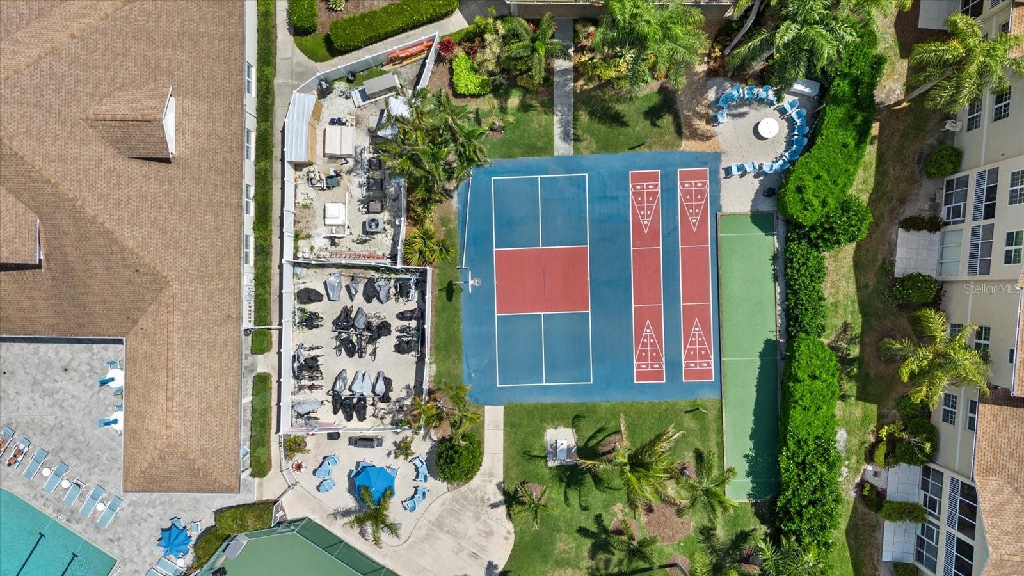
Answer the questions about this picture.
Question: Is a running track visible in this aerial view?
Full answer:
No, there's no running track here.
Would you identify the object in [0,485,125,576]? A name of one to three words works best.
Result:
swimming pool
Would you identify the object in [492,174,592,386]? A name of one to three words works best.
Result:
sports court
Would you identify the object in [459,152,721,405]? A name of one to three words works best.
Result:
sports court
